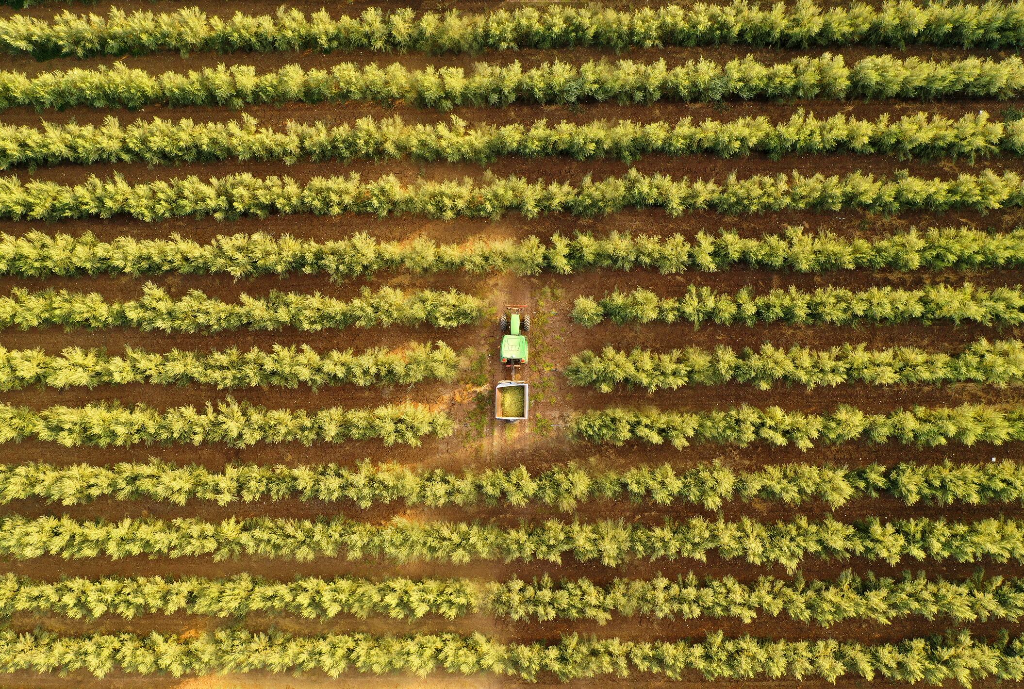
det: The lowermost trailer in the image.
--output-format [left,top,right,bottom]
[496,365,528,421]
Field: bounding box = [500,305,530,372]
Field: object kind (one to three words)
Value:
work vehicle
